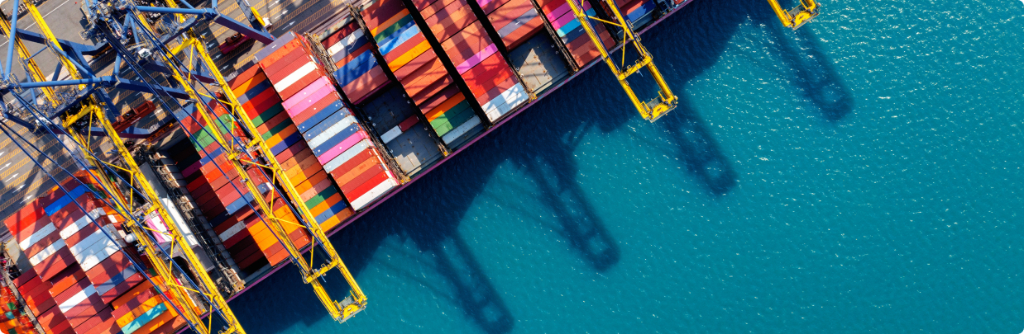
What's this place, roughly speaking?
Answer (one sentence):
The area seen from above is a port.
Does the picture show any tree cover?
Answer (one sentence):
No, the scene doesn't show any tree cover.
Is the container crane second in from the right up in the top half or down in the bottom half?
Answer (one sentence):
It is in the top half that the container crane second in from the right appears.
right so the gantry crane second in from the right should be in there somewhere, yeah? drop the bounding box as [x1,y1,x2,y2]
[562,0,683,125]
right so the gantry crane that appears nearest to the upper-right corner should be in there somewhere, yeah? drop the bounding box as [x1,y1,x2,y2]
[766,0,824,37]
